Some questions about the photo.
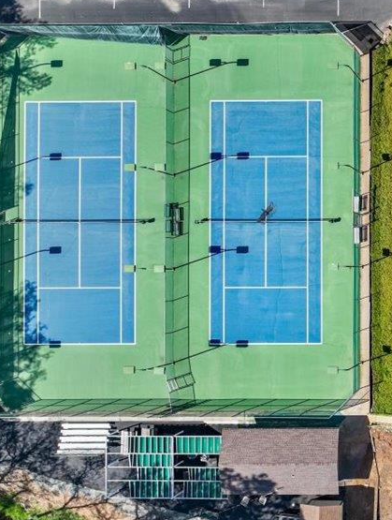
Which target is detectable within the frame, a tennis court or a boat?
tennis court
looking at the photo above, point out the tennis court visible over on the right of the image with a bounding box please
[173,35,358,407]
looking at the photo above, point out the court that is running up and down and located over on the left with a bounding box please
[0,36,173,407]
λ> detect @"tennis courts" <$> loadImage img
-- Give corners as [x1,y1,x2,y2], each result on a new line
[173,35,358,407]
[0,36,173,407]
